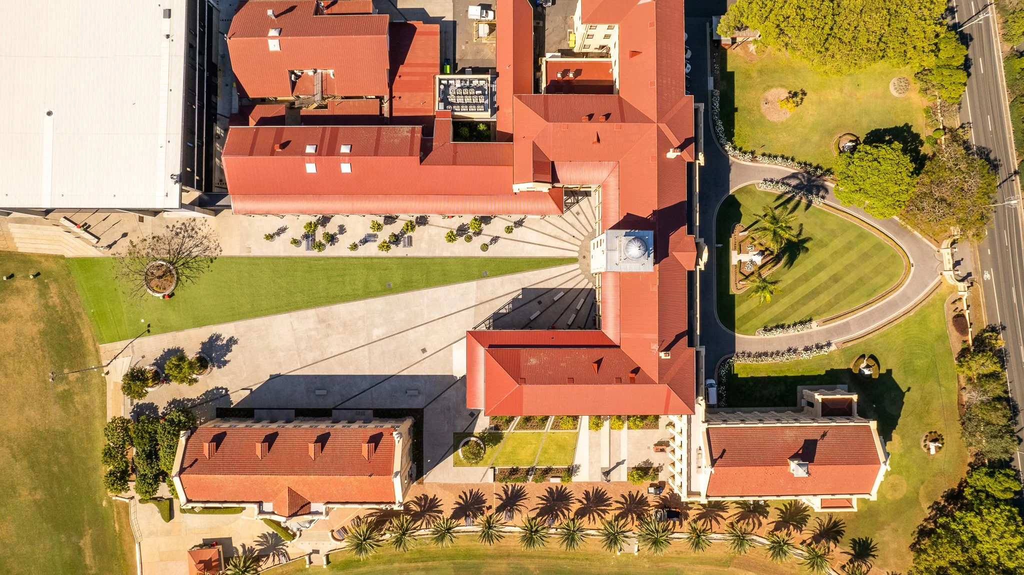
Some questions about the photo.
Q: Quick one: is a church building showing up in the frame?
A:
Yes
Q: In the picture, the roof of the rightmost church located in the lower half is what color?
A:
red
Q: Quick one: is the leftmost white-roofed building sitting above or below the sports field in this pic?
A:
above it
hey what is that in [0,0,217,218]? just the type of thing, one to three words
building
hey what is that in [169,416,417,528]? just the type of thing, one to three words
building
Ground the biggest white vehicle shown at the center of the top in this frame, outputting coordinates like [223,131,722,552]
[467,5,494,20]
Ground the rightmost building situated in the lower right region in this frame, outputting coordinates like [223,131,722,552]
[696,385,895,513]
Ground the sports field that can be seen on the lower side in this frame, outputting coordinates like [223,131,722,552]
[0,250,135,575]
